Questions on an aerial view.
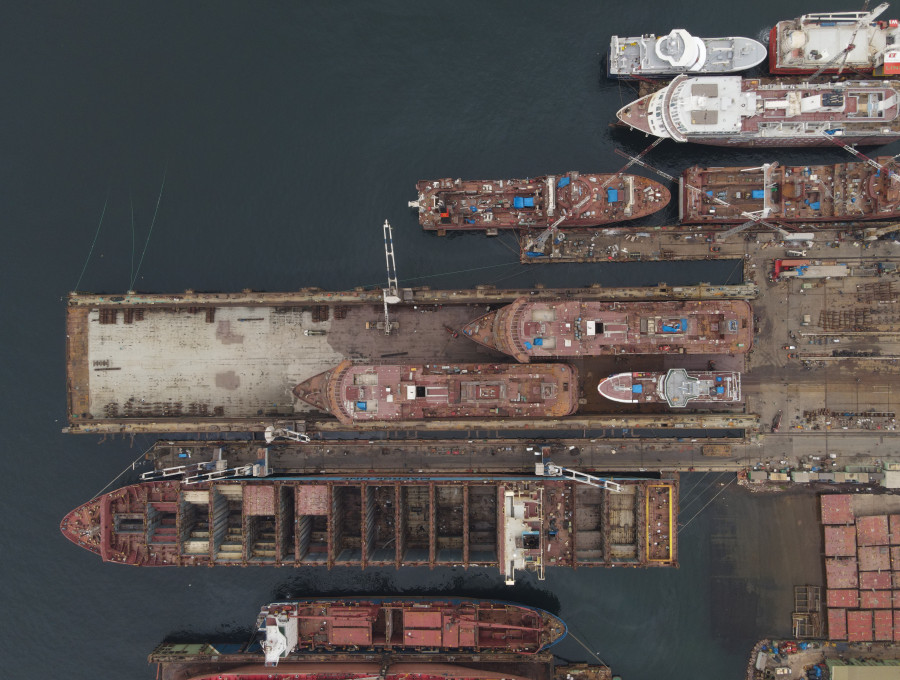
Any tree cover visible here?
No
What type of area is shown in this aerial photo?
port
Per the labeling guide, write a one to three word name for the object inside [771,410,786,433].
vehicle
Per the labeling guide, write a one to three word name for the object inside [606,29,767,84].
ship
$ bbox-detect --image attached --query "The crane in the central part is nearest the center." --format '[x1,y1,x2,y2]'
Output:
[382,219,413,335]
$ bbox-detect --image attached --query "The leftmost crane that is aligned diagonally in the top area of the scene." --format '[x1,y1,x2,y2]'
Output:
[519,140,661,258]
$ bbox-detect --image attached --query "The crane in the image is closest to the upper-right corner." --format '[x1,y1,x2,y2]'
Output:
[845,1,894,40]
